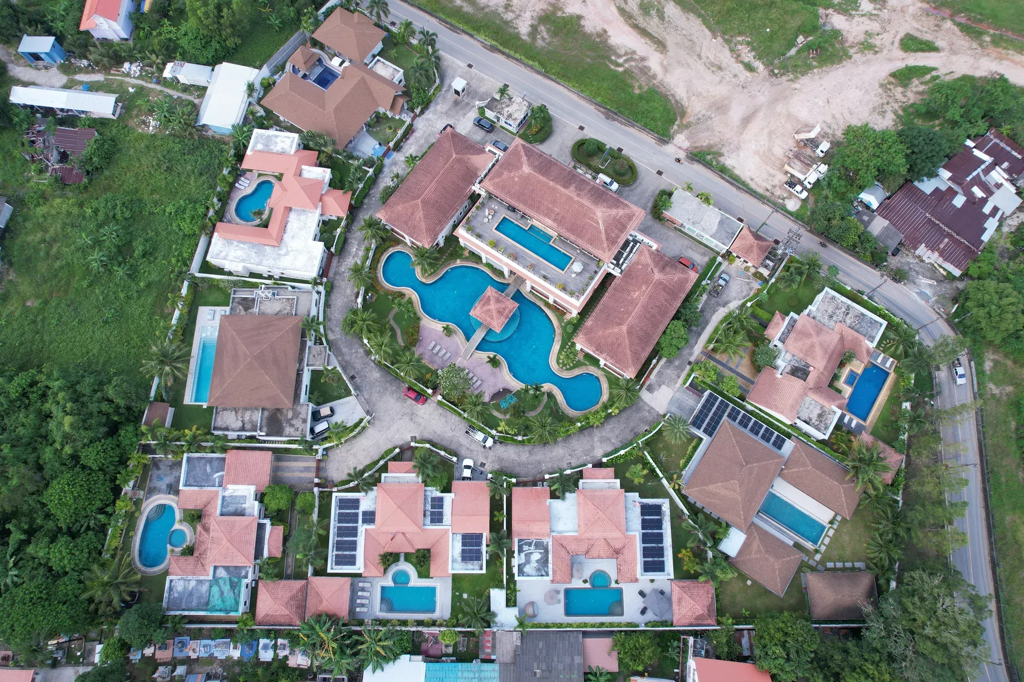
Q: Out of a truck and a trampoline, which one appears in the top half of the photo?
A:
truck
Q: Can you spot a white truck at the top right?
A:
Yes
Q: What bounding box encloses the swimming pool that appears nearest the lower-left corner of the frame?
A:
[129,496,191,577]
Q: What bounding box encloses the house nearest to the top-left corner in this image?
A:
[18,36,66,65]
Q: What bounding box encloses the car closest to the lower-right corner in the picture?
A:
[949,359,967,385]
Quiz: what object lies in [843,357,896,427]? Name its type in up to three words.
swimming pool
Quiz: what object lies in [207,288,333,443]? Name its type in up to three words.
house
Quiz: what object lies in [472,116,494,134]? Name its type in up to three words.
car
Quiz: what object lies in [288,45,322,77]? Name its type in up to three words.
gazebo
